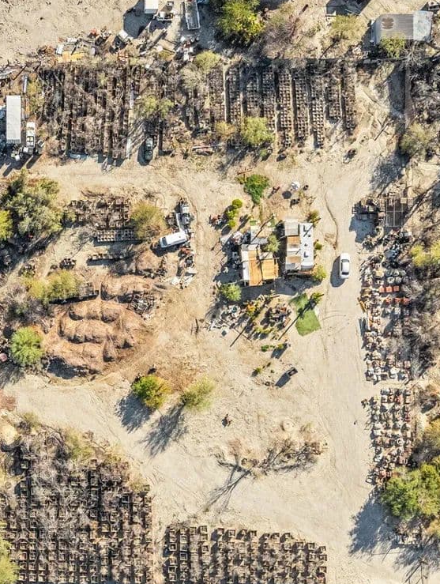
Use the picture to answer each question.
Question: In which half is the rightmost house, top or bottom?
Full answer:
The rightmost house sits in the top half of the picture.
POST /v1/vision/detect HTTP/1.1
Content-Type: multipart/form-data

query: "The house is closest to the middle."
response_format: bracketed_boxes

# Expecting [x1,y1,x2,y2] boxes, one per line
[237,226,276,287]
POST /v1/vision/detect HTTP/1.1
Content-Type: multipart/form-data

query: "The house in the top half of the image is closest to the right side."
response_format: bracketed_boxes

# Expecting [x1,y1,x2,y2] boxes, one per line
[368,10,436,46]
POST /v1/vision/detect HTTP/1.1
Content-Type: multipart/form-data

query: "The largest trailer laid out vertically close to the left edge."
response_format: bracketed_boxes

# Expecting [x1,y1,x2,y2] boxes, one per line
[6,93,21,148]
